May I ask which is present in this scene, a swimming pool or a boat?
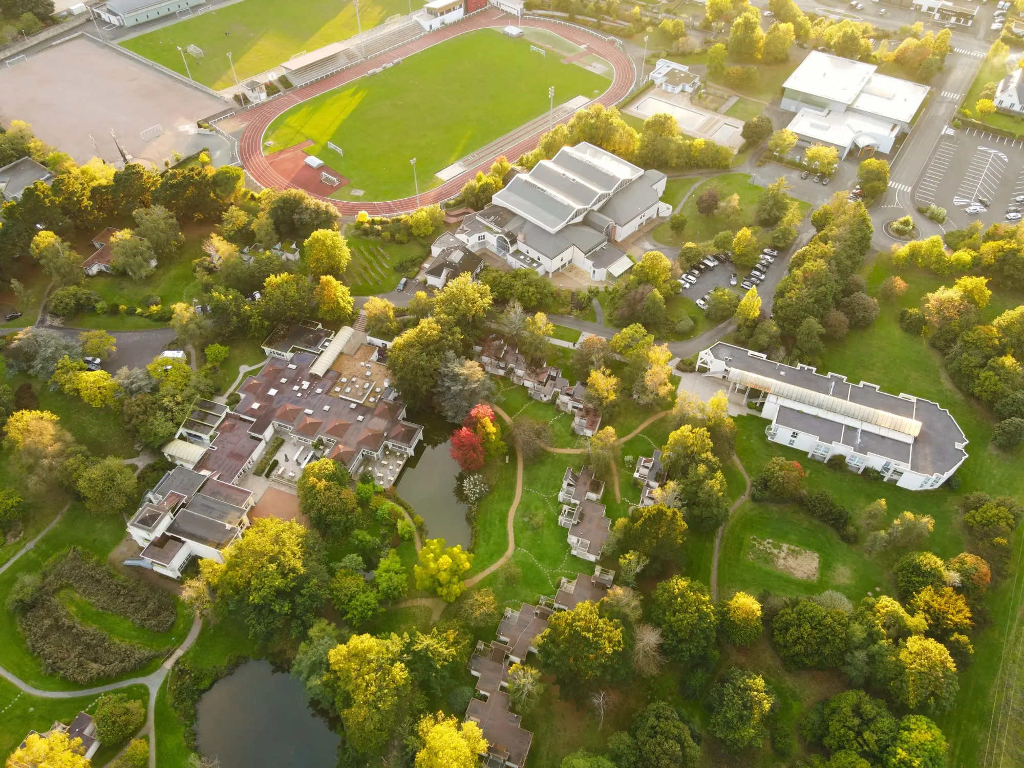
swimming pool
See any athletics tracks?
Yes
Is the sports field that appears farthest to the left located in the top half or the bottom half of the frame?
top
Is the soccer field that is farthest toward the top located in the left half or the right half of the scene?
left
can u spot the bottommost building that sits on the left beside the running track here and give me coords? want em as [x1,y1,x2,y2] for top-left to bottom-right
[121,317,425,576]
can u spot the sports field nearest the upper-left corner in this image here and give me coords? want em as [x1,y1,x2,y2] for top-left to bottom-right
[0,35,227,166]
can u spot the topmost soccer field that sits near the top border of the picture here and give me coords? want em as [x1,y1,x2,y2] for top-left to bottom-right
[117,0,435,91]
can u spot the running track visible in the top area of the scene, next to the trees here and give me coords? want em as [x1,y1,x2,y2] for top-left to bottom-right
[210,9,634,216]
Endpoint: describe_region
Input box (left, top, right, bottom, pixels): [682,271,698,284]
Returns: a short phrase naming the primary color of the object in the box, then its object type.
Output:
white vehicle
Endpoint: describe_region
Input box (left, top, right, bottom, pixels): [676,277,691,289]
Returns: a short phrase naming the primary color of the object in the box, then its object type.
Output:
white vehicle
